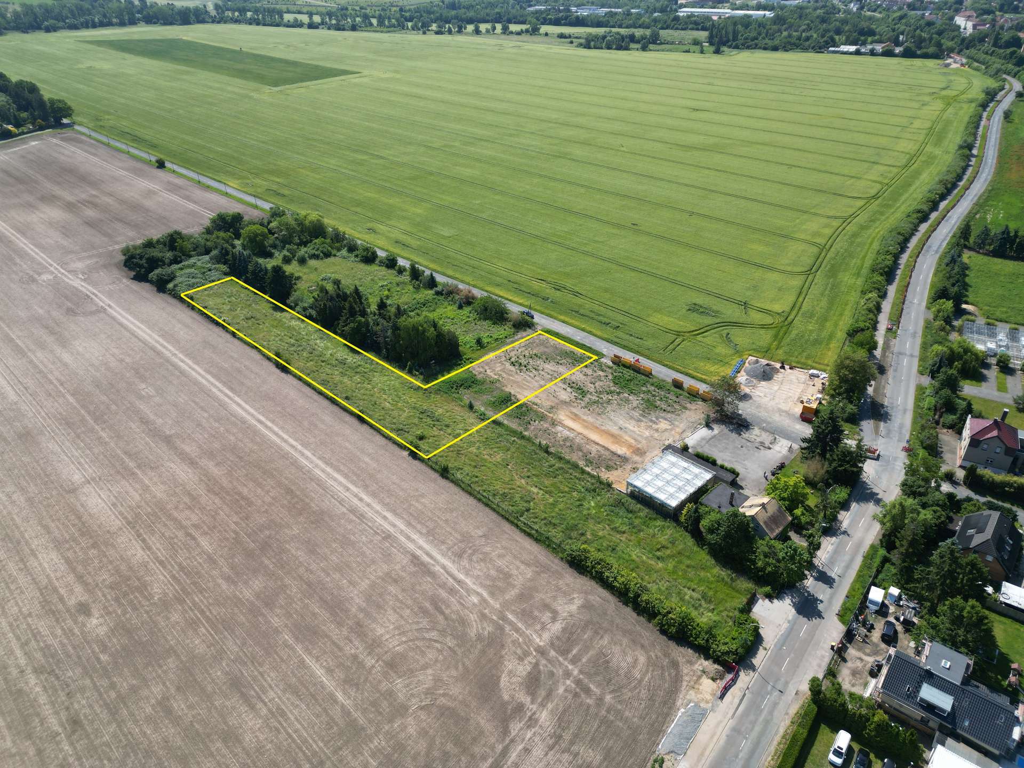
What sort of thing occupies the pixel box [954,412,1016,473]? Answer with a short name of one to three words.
house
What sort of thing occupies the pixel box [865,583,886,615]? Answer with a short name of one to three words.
camper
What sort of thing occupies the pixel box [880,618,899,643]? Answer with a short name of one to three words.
car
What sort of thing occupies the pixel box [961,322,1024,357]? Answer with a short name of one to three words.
greenhouse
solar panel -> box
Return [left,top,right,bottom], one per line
[964,515,993,546]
